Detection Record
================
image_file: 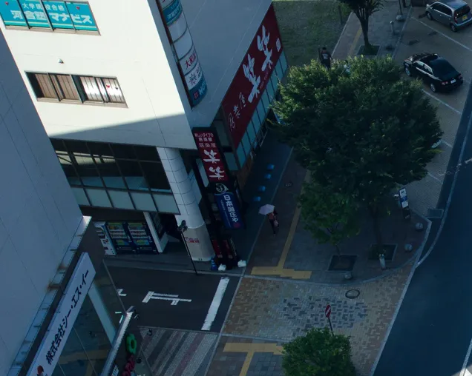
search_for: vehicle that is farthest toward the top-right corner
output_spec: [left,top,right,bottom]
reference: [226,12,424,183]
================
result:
[416,0,470,35]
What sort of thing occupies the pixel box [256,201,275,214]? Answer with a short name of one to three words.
umbrella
